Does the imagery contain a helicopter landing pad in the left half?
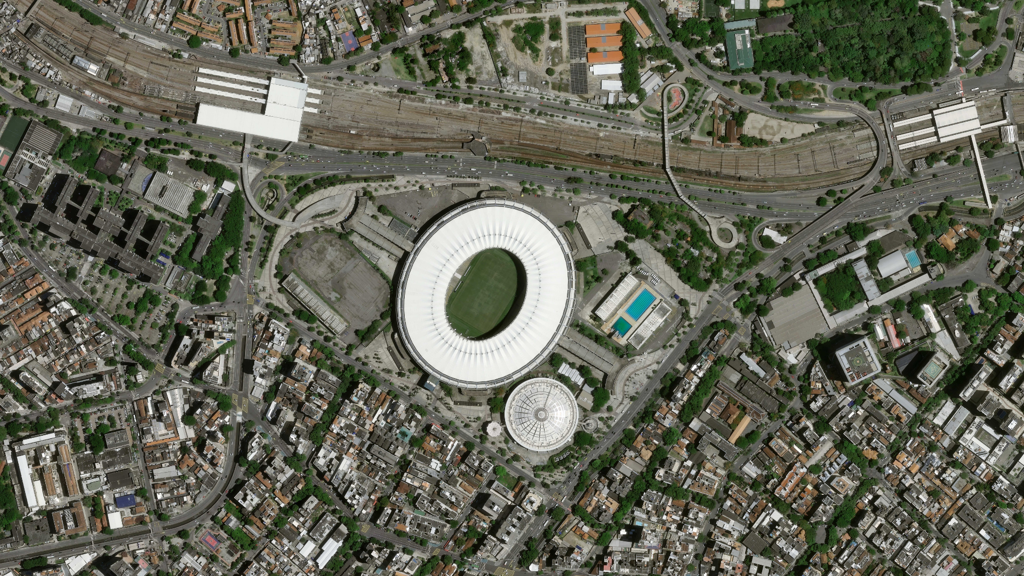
No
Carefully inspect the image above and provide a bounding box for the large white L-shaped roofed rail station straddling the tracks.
[190,67,326,142]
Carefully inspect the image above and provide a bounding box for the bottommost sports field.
[445,248,527,340]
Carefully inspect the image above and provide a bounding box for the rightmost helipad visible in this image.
[924,361,942,377]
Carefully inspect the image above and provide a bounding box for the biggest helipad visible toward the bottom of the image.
[846,346,873,379]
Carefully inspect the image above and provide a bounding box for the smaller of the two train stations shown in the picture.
[892,100,1007,149]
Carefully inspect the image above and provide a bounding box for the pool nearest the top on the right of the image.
[905,250,921,268]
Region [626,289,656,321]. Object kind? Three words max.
swimming pool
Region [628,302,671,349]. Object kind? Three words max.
building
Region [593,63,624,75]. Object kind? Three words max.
shed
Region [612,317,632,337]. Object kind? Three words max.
swimming pool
